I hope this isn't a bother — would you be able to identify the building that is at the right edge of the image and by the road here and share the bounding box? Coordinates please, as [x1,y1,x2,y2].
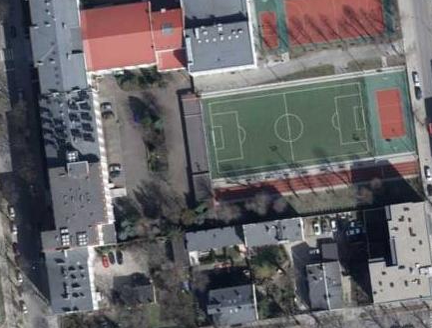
[368,201,432,303]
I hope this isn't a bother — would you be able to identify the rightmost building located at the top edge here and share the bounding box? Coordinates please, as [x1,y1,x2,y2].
[181,0,255,74]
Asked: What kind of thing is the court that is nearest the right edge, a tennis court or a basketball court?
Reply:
basketball court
